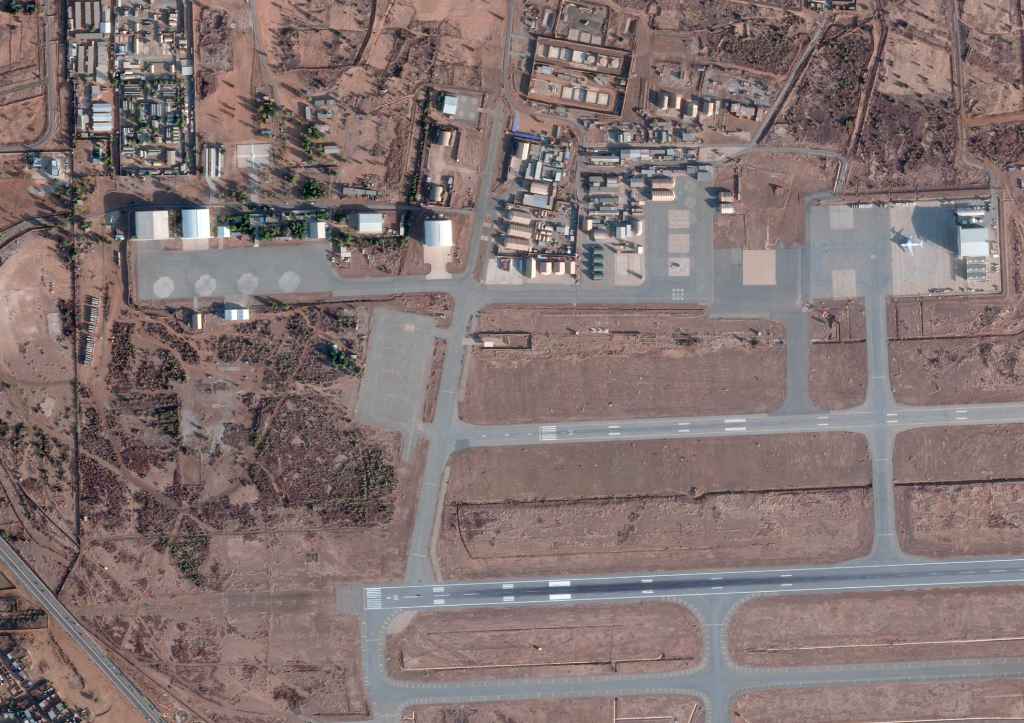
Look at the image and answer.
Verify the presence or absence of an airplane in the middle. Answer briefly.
No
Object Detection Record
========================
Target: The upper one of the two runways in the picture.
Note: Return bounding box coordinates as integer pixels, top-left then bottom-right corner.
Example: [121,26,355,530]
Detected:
[480,402,1024,447]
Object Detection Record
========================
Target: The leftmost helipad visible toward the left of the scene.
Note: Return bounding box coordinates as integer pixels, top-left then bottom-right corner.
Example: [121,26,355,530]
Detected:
[153,277,174,298]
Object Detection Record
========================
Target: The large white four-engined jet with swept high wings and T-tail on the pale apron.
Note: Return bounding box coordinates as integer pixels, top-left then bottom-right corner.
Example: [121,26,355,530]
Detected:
[901,233,925,257]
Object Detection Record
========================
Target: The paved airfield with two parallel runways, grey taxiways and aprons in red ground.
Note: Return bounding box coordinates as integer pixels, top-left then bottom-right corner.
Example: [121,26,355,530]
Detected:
[137,101,1024,723]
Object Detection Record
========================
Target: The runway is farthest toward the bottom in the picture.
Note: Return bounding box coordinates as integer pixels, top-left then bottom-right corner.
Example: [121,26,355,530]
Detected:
[336,556,1024,615]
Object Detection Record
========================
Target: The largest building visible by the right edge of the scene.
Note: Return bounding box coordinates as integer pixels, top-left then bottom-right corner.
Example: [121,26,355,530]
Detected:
[957,227,989,256]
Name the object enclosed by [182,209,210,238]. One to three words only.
hangar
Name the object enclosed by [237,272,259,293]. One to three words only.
helipad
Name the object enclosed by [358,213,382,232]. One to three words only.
hangar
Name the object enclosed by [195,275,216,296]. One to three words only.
helipad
